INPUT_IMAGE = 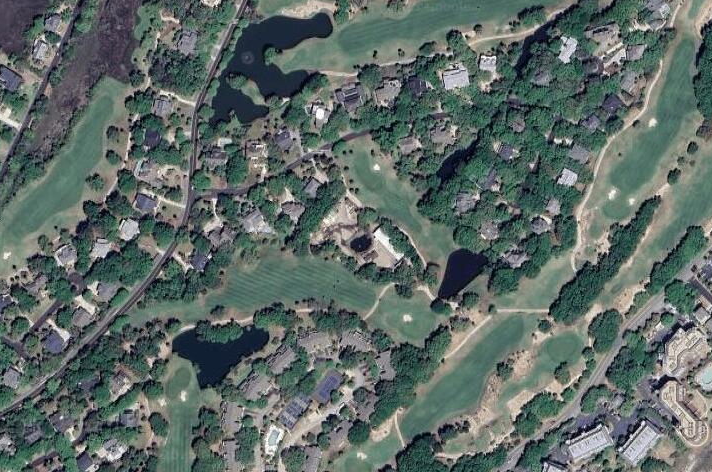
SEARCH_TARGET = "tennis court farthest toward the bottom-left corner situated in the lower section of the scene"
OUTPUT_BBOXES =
[276,392,312,427]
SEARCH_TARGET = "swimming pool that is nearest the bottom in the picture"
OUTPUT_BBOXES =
[265,424,284,457]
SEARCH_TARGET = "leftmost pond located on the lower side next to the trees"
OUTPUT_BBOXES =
[172,326,270,388]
